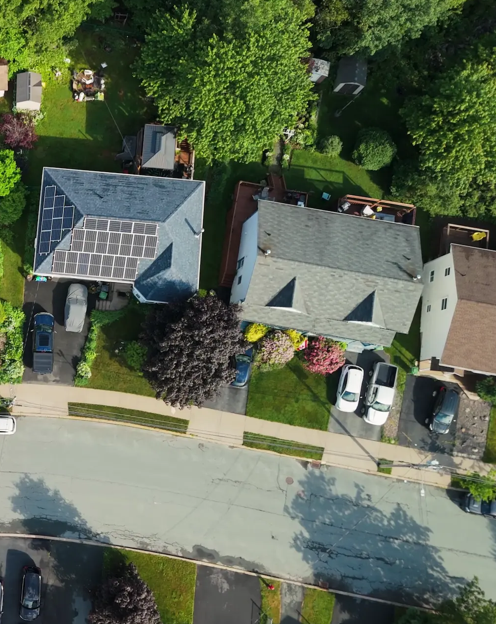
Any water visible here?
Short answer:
No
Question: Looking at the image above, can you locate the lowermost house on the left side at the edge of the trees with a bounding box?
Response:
[32,167,206,308]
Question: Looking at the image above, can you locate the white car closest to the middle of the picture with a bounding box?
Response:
[335,364,362,413]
